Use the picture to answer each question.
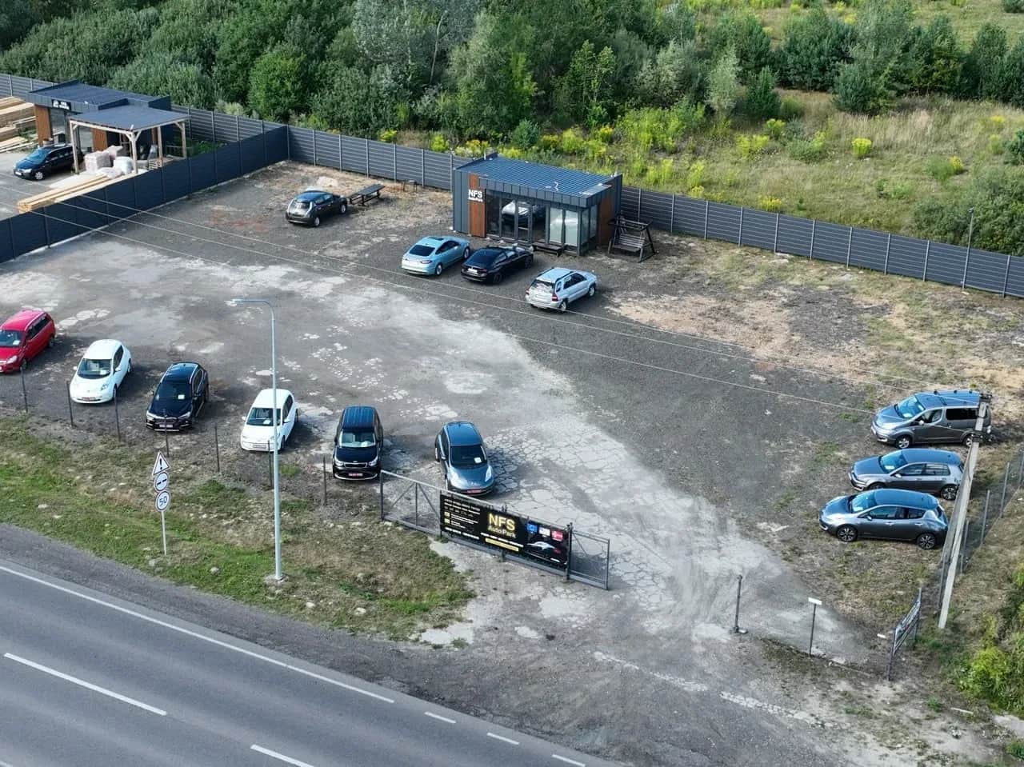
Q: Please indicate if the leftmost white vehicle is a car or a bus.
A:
car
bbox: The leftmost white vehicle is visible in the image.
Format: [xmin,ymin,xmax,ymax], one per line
[70,338,135,403]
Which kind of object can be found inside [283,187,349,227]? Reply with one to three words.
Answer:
car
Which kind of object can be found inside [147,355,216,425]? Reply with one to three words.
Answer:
car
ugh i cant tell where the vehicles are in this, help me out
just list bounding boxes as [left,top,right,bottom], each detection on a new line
[0,306,56,371]
[283,187,349,227]
[433,417,496,494]
[853,443,974,499]
[70,338,135,403]
[458,243,536,283]
[523,263,600,312]
[872,387,998,447]
[399,235,473,276]
[821,487,953,549]
[147,355,216,425]
[10,138,85,180]
[329,408,390,487]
